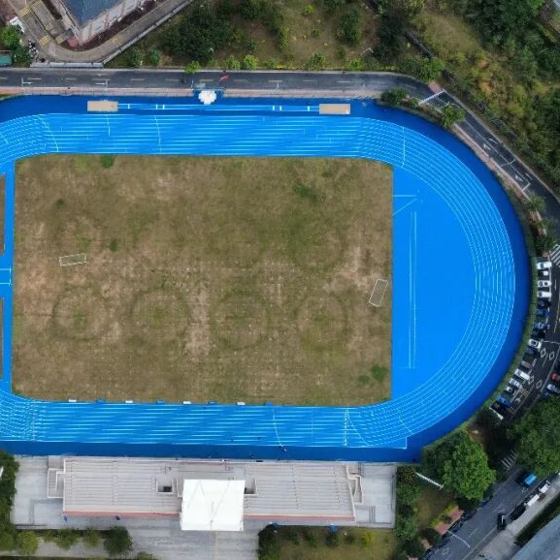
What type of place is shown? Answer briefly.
sports ground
